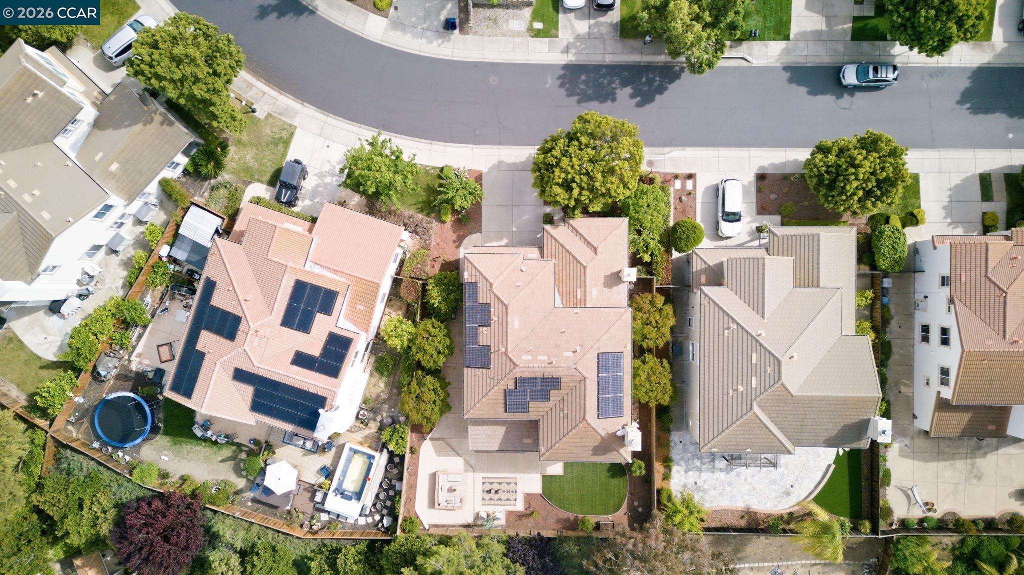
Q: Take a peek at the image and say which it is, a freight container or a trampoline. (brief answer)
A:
trampoline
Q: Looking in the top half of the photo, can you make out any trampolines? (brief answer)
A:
No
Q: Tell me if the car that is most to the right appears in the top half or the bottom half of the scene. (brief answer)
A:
top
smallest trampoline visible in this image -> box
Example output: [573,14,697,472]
[152,344,171,364]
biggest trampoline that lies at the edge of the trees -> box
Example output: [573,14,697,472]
[77,391,151,453]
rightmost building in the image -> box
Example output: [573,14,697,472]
[914,227,1024,439]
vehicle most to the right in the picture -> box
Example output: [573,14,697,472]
[841,58,902,87]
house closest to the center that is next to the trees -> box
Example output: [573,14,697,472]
[462,216,641,464]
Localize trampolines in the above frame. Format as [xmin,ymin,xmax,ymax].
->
[77,391,151,453]
[152,344,171,364]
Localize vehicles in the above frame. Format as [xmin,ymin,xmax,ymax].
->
[564,0,587,9]
[269,156,304,207]
[96,13,158,66]
[841,58,902,87]
[719,177,749,235]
